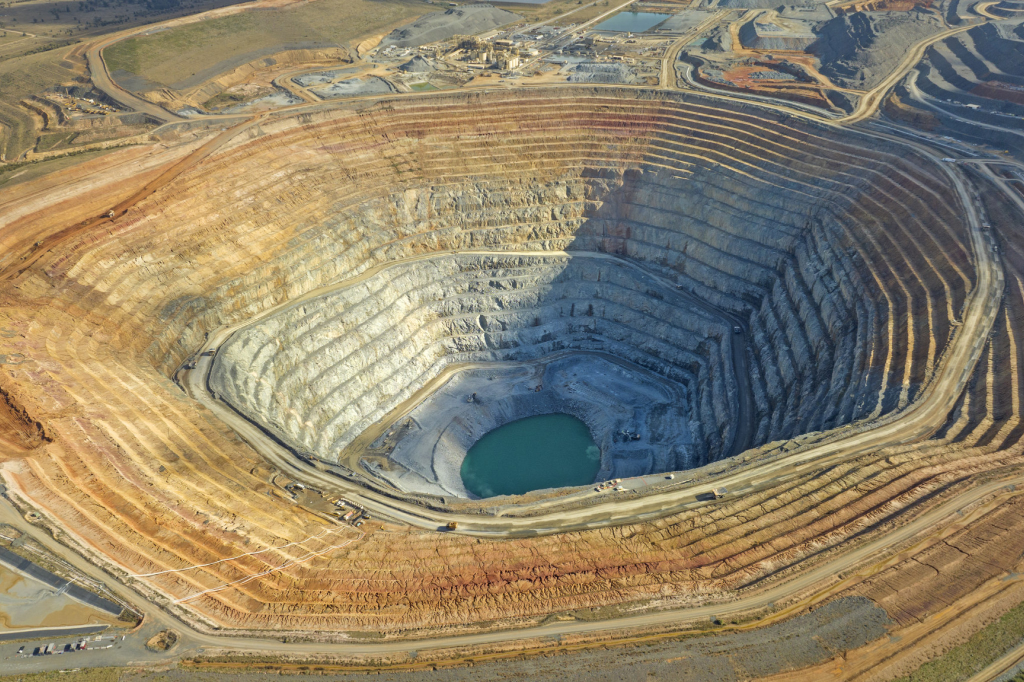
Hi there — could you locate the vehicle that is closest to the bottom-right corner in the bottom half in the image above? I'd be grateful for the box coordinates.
[711,489,729,502]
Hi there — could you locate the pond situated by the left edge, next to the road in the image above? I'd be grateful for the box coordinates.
[0,557,116,639]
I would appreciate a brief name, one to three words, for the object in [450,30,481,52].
building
